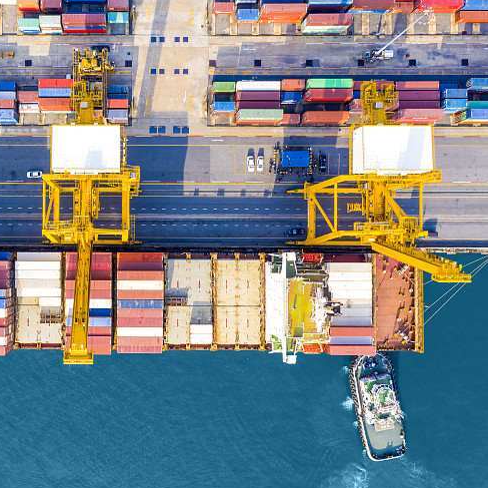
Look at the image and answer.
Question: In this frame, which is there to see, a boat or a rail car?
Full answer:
This aerial view contains a boat.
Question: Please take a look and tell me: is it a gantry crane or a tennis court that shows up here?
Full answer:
It is a gantry crane that can be seen here.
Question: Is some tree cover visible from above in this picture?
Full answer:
No, no tree cover is visible.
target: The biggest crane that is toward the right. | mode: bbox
[280,76,472,282]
